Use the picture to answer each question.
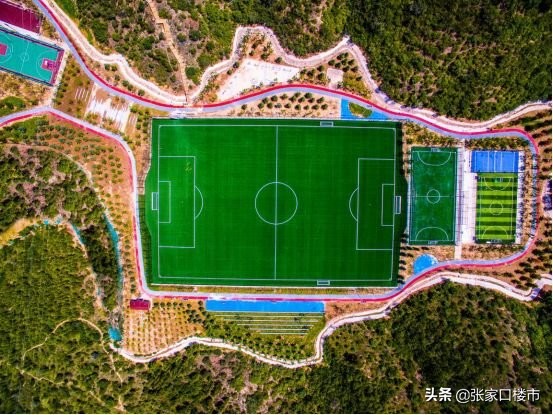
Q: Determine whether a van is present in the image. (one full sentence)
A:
No, no van is visible in the scene.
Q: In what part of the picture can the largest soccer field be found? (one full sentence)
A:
The largest soccer field sits in the center section of the image.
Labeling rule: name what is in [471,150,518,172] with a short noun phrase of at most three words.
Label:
sports court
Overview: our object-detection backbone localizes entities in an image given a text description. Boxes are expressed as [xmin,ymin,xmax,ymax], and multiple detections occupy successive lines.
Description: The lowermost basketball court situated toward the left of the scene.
[0,32,64,84]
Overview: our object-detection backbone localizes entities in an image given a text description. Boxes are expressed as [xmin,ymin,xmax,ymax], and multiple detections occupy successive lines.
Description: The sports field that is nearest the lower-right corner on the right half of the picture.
[475,173,518,244]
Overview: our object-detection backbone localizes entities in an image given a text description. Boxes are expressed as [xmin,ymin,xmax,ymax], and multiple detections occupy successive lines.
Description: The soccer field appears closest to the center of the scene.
[145,116,407,290]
